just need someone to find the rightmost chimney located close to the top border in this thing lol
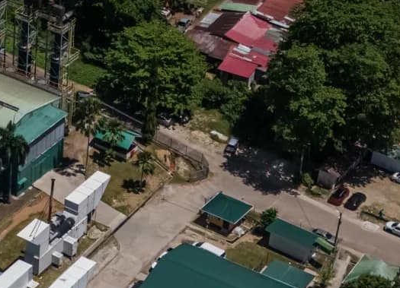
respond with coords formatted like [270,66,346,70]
[49,6,87,90]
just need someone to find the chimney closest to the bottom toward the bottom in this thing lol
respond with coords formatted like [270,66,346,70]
[40,177,60,224]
